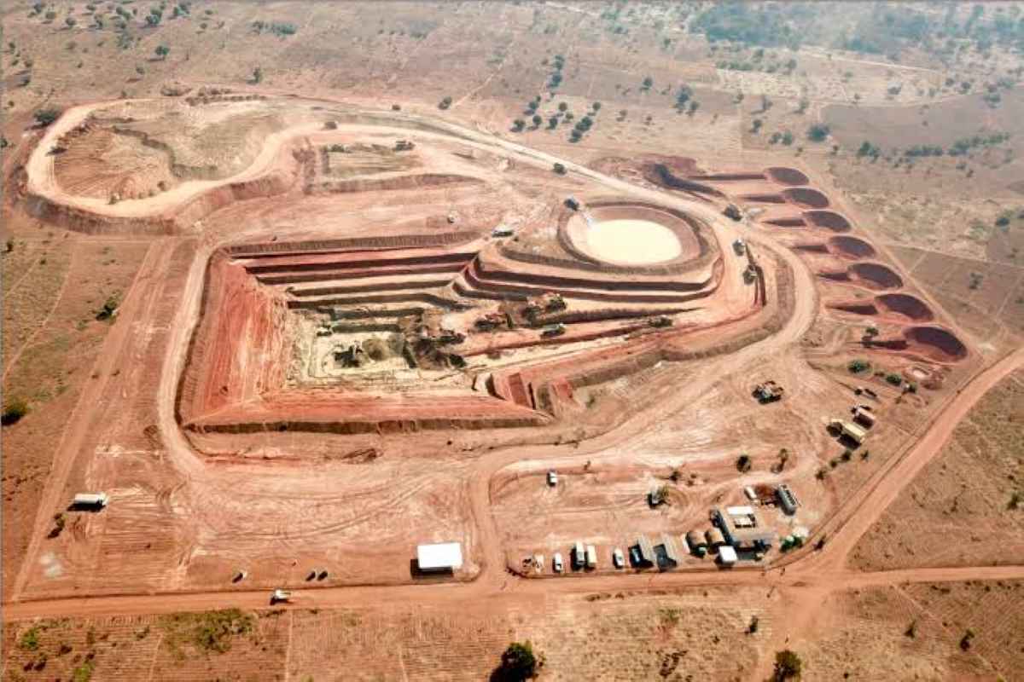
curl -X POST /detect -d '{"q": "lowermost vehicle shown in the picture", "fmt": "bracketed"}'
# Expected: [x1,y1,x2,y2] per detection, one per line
[268,592,293,604]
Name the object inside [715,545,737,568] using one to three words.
building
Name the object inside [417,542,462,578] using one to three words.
shed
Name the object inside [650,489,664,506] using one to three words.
vehicle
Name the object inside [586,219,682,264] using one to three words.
pond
